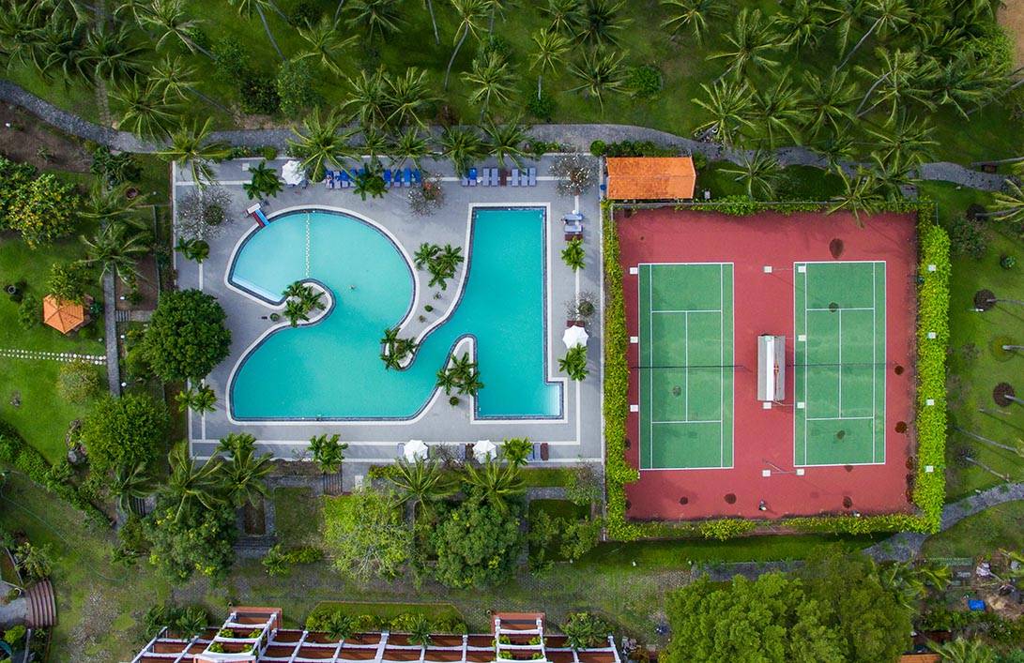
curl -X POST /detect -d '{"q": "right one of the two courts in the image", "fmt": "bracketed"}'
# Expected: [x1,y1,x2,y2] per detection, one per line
[787,261,899,466]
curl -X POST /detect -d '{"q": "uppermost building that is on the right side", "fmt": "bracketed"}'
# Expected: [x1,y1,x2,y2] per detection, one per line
[606,157,697,199]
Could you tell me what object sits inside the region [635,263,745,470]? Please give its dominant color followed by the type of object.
green tennis court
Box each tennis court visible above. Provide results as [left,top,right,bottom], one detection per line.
[635,263,745,470]
[787,261,899,466]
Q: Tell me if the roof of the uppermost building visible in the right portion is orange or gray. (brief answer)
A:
orange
